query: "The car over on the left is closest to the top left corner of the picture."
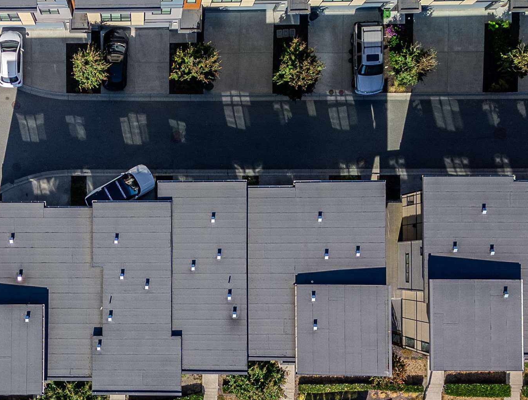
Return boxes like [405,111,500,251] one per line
[0,28,26,90]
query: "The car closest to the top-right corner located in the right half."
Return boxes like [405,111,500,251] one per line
[351,20,389,96]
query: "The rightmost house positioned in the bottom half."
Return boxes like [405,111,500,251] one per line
[392,174,528,371]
